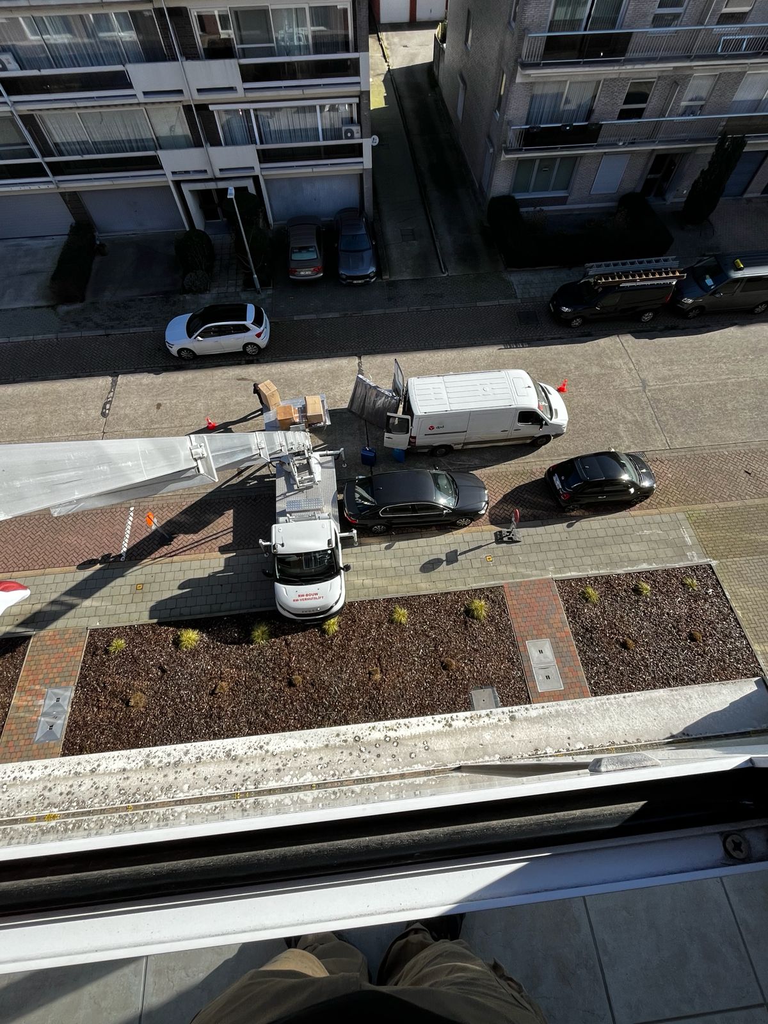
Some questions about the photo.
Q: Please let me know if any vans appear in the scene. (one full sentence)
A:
Yes, the image includes a van.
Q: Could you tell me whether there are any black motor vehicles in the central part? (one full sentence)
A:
Yes, there is a black motor vehicle in the central part.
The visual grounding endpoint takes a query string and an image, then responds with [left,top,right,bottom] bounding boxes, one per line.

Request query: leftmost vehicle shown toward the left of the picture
[163,301,269,360]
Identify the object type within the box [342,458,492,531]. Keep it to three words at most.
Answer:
car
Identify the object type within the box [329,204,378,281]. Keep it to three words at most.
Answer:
car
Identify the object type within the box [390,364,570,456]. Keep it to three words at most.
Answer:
van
